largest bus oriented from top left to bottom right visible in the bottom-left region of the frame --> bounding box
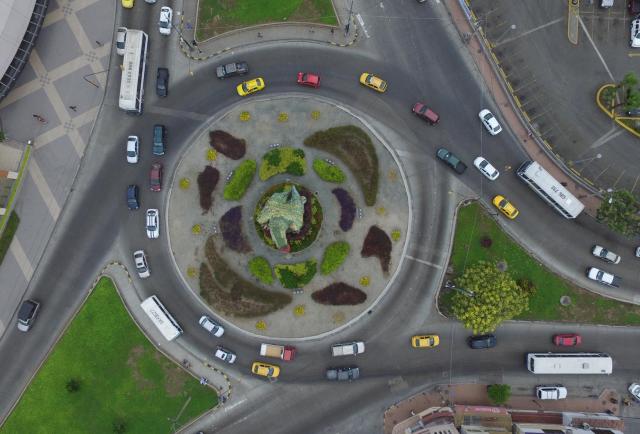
[142,295,183,342]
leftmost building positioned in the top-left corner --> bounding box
[0,0,51,107]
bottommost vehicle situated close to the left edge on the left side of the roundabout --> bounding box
[18,300,39,330]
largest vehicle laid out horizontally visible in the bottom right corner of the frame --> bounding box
[522,351,611,374]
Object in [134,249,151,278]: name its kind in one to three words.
car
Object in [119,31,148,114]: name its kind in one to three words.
bus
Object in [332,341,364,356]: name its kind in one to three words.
vehicle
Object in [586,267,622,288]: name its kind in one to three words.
truck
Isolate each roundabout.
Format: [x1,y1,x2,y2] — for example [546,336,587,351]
[163,93,411,341]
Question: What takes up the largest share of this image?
paved ground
